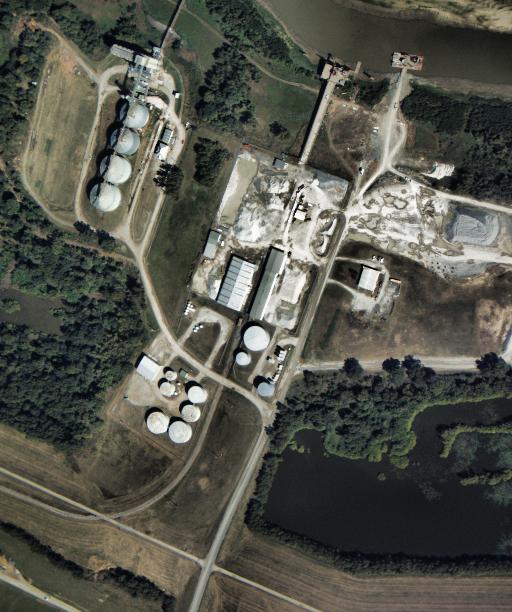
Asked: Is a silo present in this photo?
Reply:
Yes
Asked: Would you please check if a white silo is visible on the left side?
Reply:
Yes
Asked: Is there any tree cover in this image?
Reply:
Yes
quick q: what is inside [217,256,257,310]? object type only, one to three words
barn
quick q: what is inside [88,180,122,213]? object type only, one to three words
silo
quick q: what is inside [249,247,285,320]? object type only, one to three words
shed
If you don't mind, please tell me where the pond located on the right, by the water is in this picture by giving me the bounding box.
[264,394,512,558]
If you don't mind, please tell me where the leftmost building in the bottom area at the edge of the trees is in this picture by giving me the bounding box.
[136,356,161,381]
